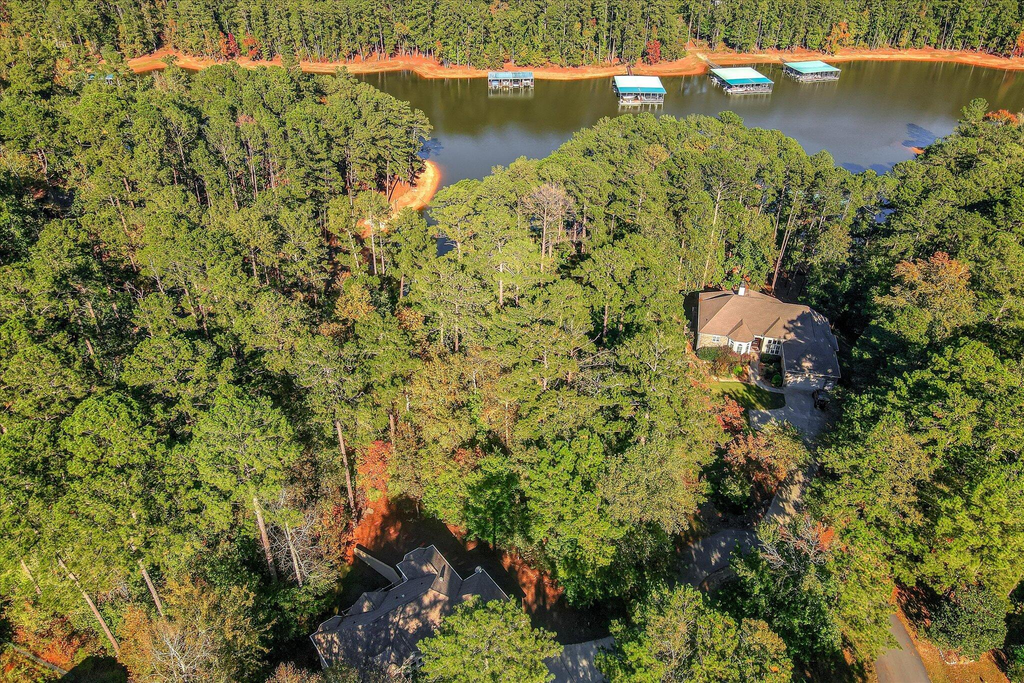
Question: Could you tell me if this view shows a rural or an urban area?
rural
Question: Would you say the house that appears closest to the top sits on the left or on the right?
right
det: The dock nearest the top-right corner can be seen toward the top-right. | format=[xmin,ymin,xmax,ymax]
[771,56,842,83]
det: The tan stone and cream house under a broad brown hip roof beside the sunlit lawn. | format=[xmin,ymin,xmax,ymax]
[697,285,846,395]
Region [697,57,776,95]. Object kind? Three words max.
pier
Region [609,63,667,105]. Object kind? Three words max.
pier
